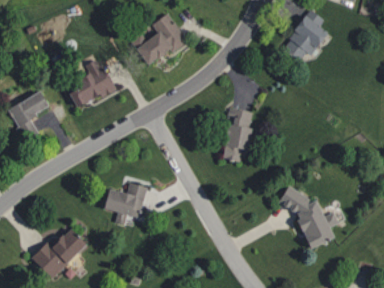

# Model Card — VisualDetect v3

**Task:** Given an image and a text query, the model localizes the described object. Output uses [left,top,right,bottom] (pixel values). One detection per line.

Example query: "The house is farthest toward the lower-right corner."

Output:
[280,186,335,247]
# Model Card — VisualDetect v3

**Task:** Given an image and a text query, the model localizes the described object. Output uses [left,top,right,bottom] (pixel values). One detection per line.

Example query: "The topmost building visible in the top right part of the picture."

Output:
[286,10,330,58]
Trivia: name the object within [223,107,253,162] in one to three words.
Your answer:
house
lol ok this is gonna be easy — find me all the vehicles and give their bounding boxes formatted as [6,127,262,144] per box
[166,88,177,96]
[104,124,114,132]
[154,201,165,208]
[160,144,170,156]
[343,0,355,8]
[272,208,282,218]
[116,117,126,124]
[169,160,179,172]
[166,196,176,204]
[91,132,102,139]
[178,12,186,22]
[183,10,192,20]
